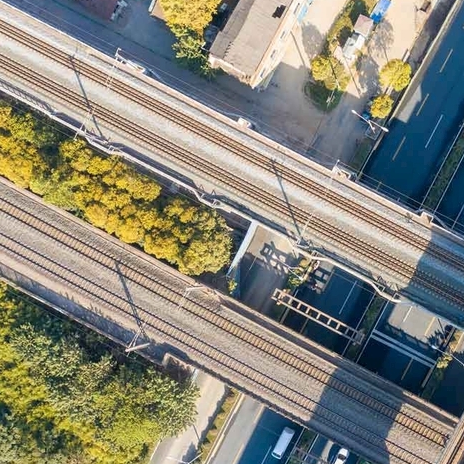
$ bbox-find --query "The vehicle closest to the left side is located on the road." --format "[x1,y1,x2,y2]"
[270,427,296,461]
